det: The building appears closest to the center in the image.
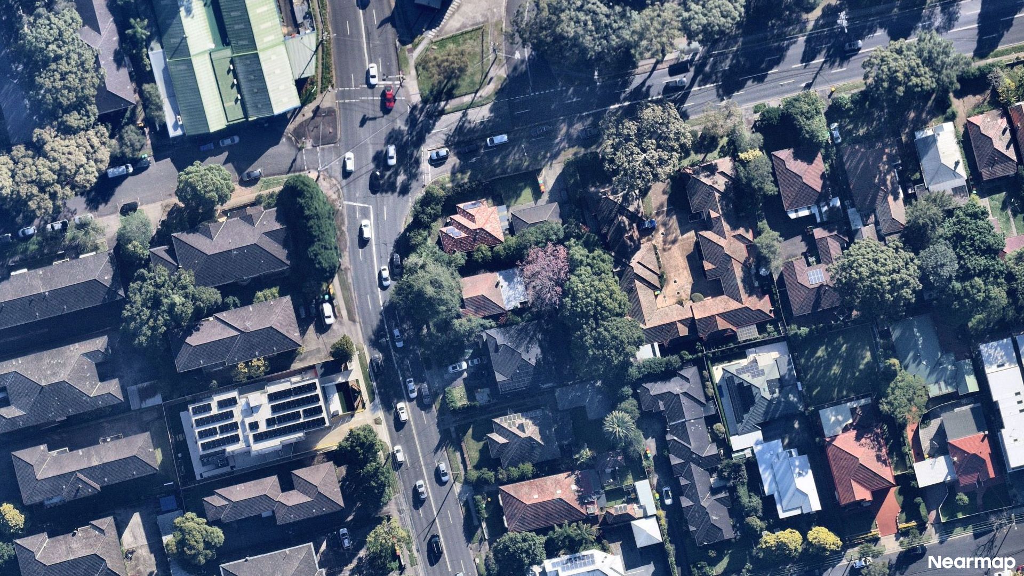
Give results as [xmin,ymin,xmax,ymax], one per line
[458,267,529,318]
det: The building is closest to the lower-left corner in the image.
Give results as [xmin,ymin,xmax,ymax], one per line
[6,516,130,576]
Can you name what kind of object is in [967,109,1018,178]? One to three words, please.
house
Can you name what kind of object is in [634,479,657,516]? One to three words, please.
shed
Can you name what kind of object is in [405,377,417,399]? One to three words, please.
vehicle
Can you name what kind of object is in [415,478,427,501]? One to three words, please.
vehicle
